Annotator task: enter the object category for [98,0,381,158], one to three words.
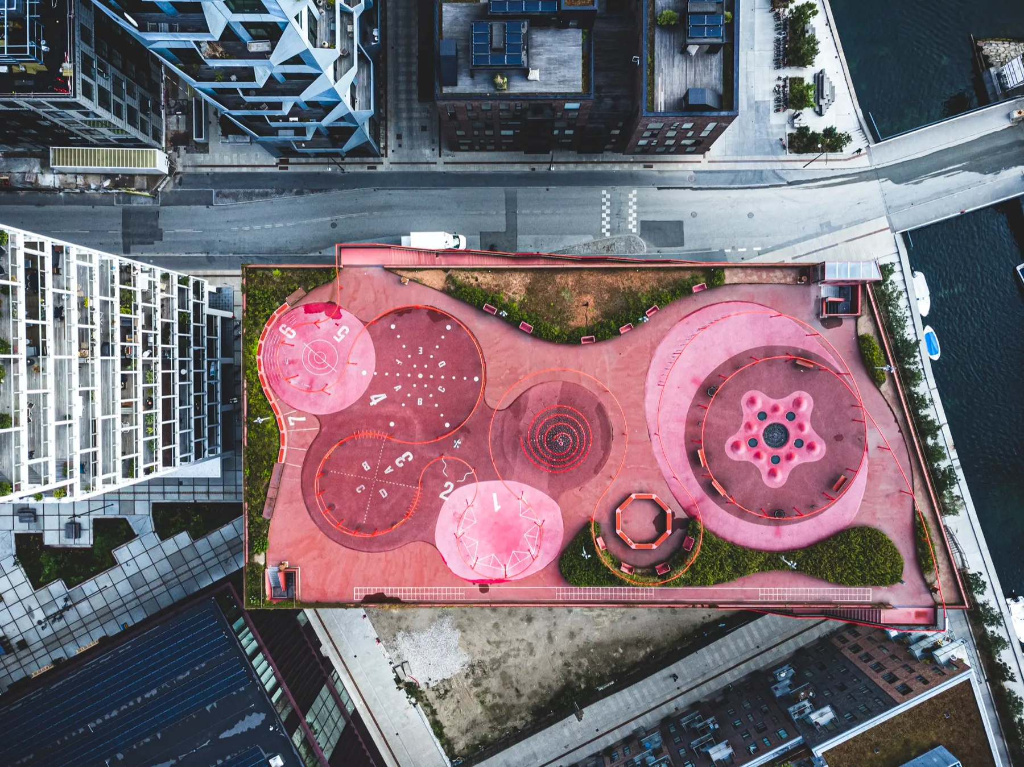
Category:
house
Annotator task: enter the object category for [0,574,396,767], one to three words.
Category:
building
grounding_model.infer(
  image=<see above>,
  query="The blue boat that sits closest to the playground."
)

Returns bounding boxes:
[925,326,940,361]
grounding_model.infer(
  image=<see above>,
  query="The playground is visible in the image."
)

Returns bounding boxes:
[725,392,826,489]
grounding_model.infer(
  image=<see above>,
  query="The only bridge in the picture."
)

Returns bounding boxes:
[761,94,1024,233]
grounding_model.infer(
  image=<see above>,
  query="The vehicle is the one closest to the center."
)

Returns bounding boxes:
[401,231,467,252]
